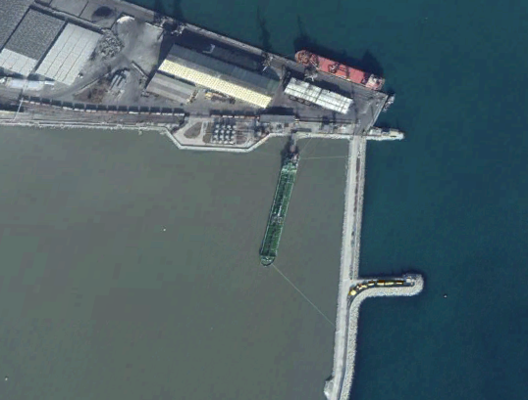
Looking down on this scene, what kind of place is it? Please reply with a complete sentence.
The area seen from above is a port.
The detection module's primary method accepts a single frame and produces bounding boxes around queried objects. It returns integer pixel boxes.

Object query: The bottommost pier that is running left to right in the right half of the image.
[367,128,405,141]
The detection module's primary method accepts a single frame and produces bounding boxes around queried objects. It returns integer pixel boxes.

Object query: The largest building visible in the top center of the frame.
[158,43,279,107]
